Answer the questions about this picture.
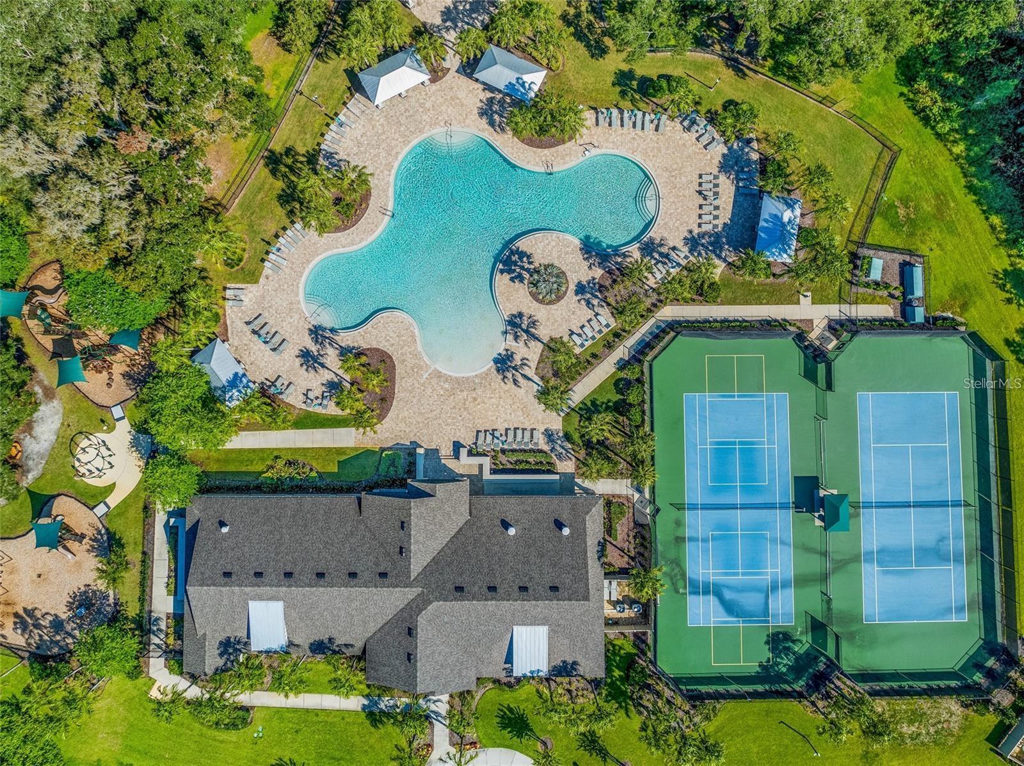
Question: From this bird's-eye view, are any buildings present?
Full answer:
Yes, you can see a building in this photo.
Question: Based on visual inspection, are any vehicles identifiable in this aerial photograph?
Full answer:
No, I can't see a single vehicle in this photo.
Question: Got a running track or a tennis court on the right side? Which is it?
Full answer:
You can see a tennis court on the right side.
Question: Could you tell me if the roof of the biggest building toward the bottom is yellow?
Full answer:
No, from above the roof of the biggest building toward the bottom looks gray.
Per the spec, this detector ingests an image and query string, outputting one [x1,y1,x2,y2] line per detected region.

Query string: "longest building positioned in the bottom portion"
[185,473,604,698]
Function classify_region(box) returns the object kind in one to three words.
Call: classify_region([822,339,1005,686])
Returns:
tennis court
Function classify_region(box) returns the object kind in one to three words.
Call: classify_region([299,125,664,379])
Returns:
swimming pool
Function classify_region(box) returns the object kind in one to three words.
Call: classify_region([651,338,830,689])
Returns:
tennis court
